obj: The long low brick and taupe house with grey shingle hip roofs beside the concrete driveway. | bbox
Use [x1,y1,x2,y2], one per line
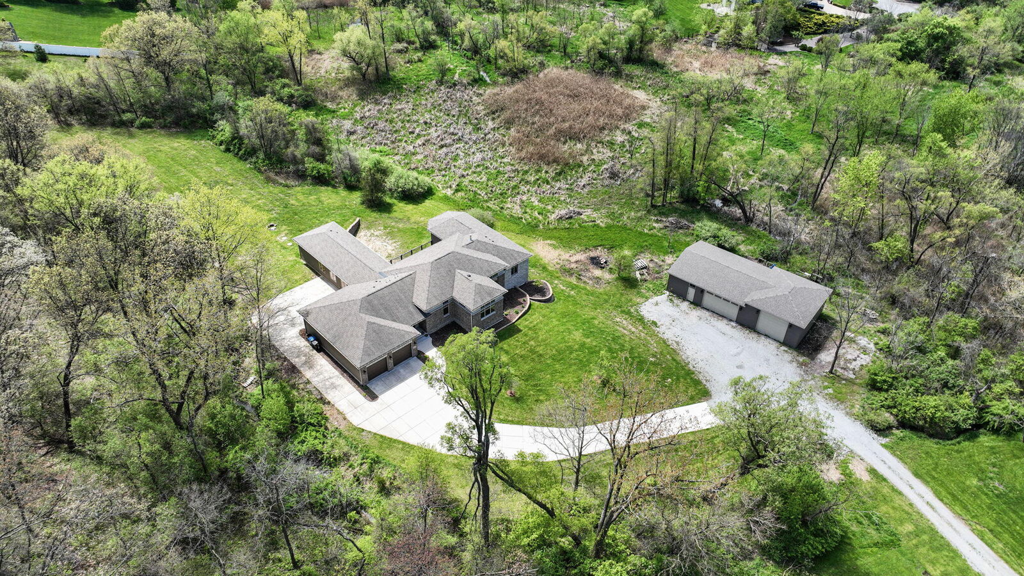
[291,211,535,385]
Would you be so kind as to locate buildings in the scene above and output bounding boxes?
[666,241,834,347]
[291,211,535,385]
[0,14,18,39]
